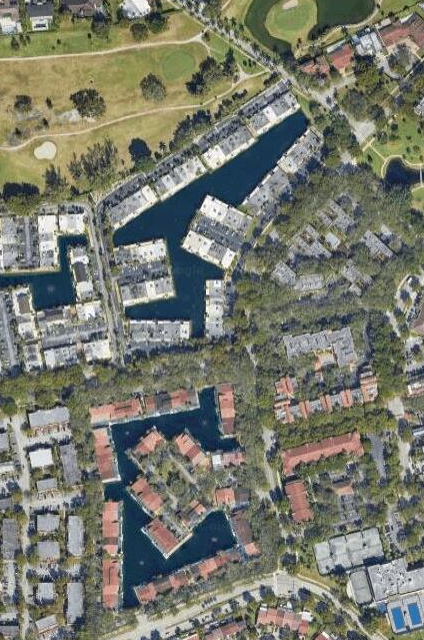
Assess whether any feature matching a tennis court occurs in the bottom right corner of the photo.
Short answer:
Yes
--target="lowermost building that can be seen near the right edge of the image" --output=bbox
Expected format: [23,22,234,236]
[367,557,424,600]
